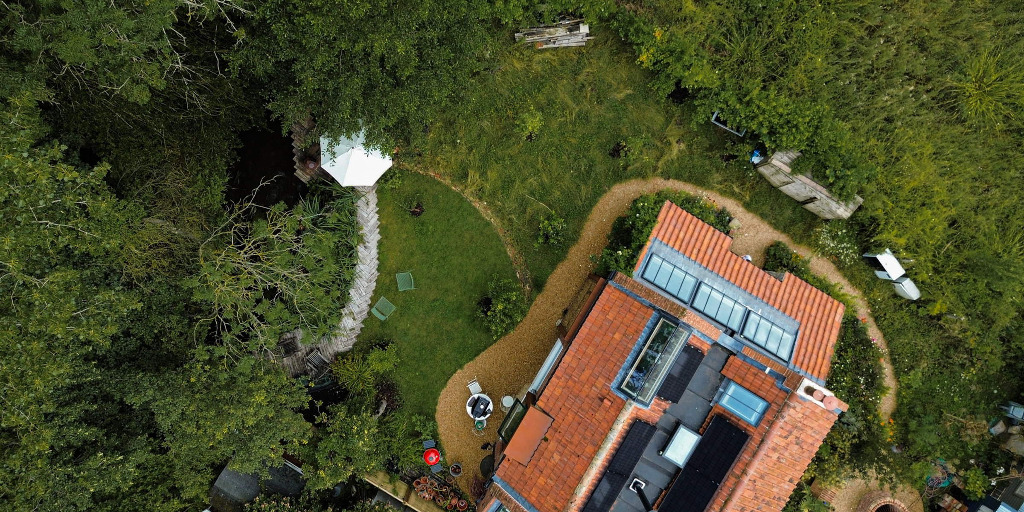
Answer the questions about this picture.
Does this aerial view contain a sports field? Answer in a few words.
No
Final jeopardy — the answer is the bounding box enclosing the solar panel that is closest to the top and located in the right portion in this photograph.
[659,344,707,405]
